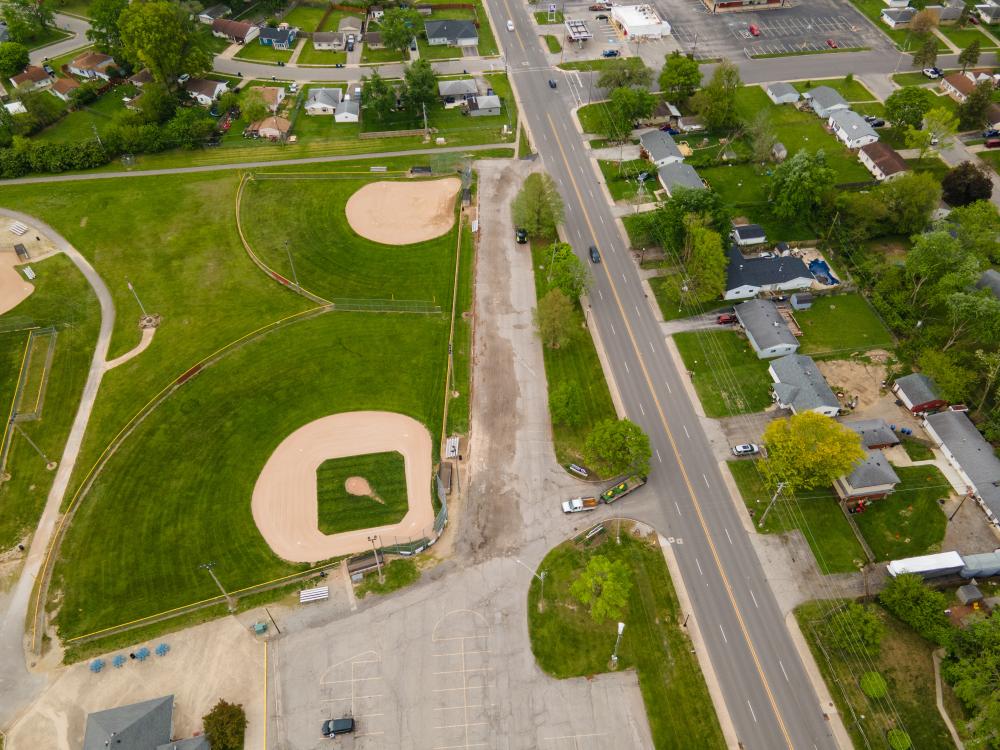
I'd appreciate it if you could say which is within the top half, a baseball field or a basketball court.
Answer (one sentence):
It is a baseball field that can be seen within the top half.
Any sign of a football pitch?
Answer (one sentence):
No, no football pitch is visible in the scene.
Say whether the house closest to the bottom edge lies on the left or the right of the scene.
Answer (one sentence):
The house closest to the bottom edge is on the left side of the image.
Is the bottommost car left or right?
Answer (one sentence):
It is on the left.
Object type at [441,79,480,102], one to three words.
house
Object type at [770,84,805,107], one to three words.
building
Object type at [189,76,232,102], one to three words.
house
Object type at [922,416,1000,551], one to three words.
shed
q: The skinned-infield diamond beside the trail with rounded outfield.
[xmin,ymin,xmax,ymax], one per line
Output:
[243,174,467,306]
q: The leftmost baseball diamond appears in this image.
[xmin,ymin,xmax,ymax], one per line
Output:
[0,243,36,451]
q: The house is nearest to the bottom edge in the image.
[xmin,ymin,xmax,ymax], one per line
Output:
[76,688,206,750]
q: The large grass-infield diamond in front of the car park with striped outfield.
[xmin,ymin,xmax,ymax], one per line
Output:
[47,306,450,651]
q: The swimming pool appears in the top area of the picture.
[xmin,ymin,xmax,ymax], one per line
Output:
[802,251,842,292]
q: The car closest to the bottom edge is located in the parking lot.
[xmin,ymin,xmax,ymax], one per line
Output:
[318,716,351,735]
